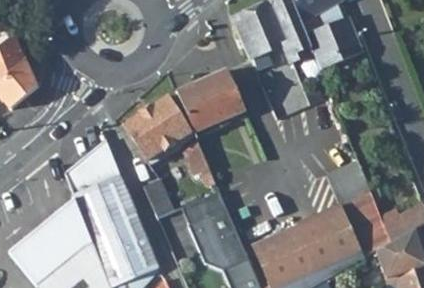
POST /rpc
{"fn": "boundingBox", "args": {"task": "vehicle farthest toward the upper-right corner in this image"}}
[316,106,332,128]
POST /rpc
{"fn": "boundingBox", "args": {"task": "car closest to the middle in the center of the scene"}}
[170,162,184,184]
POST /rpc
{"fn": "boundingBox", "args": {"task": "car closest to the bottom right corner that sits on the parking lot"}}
[330,146,346,167]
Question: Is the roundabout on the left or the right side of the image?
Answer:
left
